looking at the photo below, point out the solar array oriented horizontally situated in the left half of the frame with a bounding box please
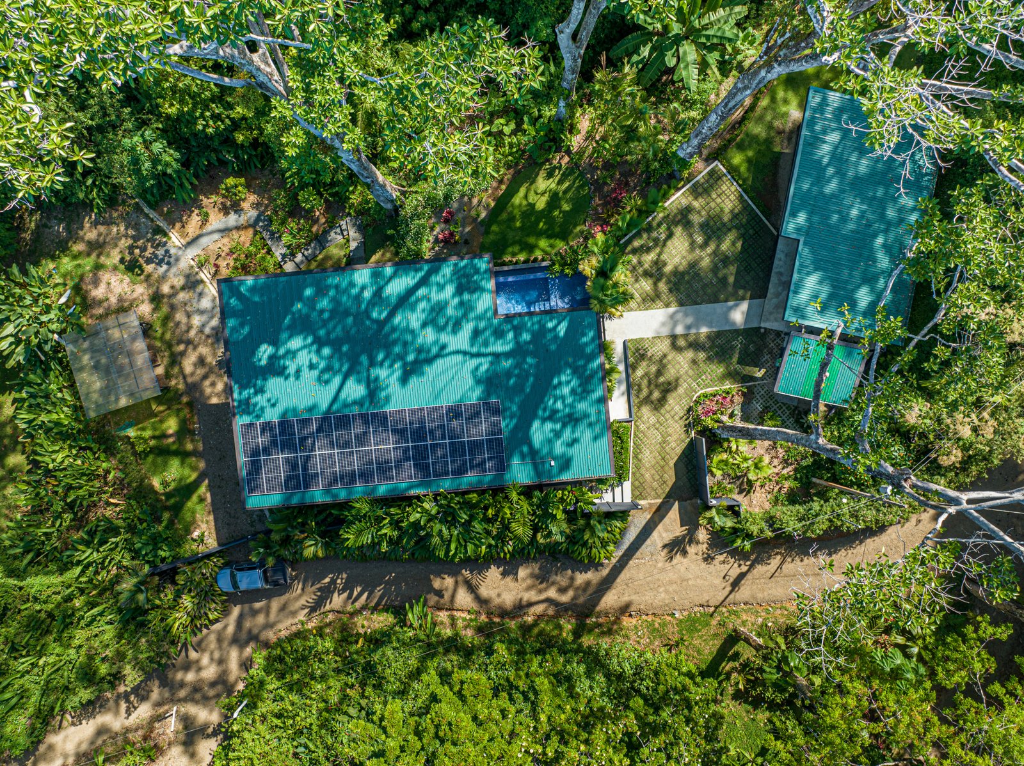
[239,401,506,496]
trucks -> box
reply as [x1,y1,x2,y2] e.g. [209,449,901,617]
[214,560,296,596]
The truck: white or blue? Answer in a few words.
blue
